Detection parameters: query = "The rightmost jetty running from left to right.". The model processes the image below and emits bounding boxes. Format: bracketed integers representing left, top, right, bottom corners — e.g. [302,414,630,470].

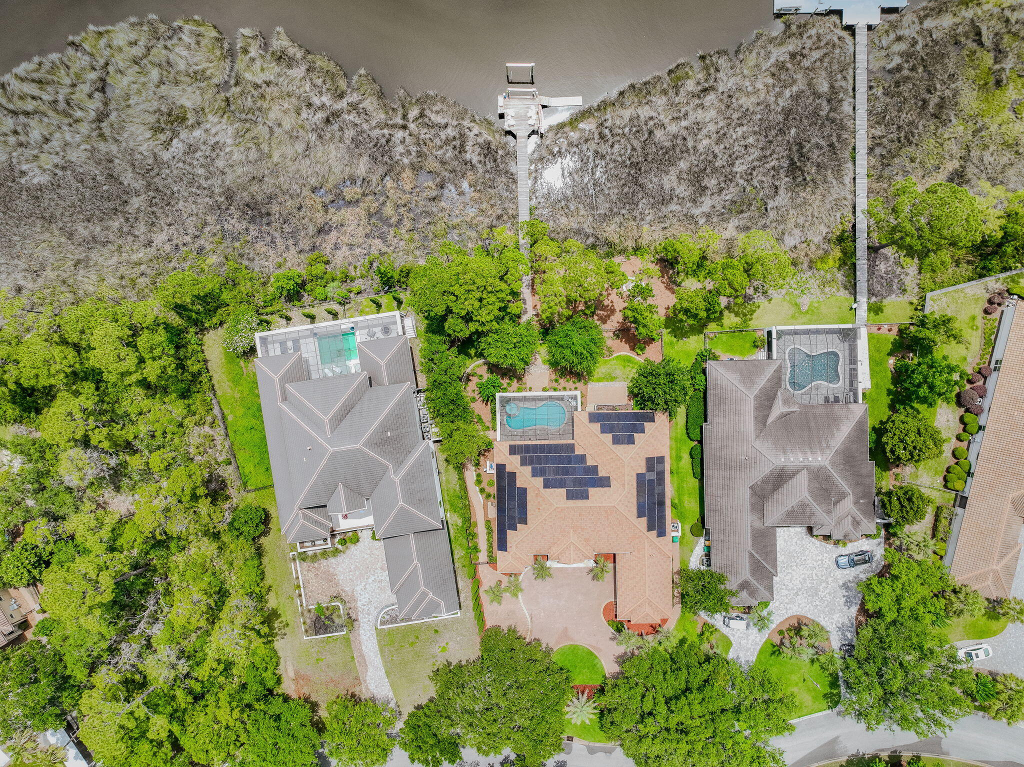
[763,0,910,38]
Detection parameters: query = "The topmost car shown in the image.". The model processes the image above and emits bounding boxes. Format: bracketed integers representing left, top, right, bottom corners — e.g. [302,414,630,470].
[833,549,872,570]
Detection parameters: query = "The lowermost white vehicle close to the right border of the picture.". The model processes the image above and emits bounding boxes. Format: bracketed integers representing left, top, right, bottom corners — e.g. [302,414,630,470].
[956,641,994,663]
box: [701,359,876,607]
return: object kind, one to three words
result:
house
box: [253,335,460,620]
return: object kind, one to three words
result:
house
